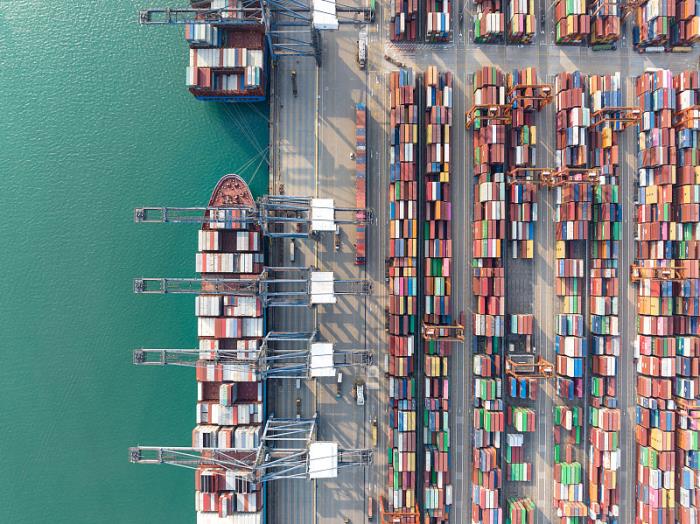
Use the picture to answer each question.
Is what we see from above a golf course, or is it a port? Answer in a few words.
port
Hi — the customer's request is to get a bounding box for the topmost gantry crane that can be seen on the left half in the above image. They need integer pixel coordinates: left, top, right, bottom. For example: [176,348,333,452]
[135,0,375,69]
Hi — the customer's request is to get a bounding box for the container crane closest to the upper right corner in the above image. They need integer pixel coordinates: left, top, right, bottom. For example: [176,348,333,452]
[588,0,643,30]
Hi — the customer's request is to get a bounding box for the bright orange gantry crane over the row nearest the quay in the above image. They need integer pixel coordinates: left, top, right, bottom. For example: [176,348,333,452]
[379,491,422,524]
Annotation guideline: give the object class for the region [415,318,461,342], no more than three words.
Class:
container crane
